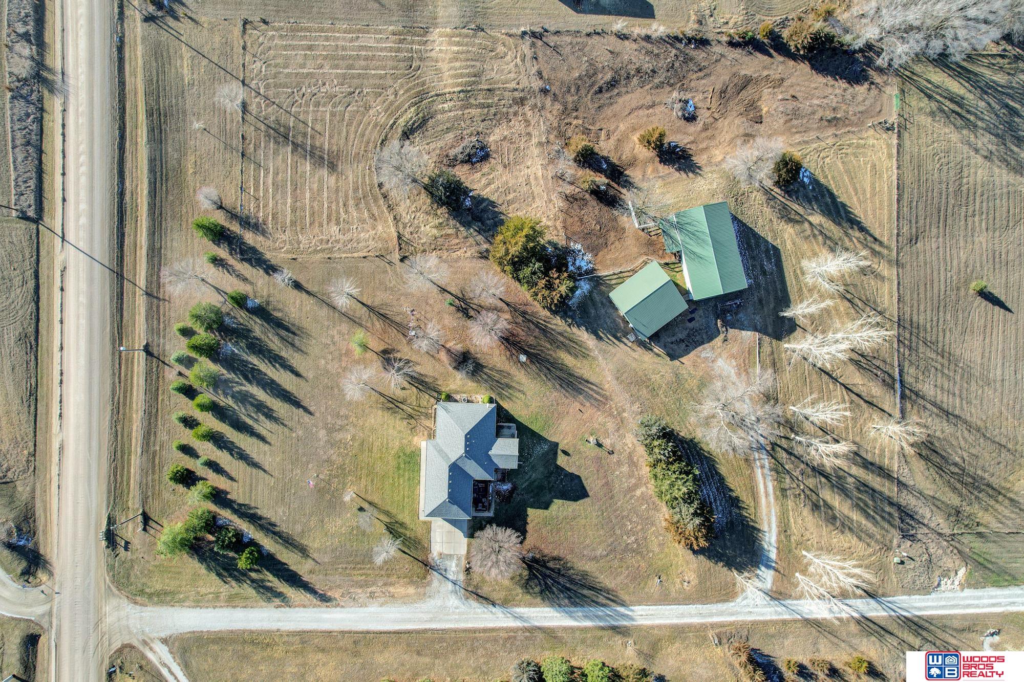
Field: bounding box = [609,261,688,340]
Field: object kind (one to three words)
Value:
barn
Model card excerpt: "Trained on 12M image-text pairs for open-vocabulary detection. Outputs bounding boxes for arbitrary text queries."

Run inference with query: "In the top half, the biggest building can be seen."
[673,201,748,300]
